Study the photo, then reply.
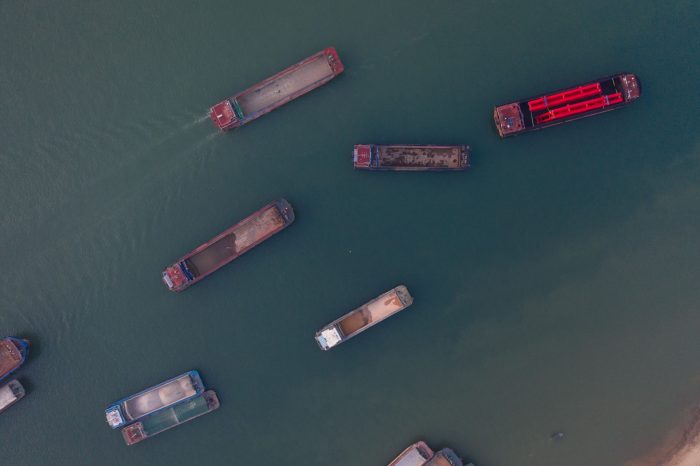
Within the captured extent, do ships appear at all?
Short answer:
Yes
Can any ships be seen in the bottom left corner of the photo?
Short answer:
Yes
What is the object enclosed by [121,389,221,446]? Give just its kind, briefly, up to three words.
ship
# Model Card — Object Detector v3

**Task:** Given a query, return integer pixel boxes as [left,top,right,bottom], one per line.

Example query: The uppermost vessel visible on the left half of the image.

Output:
[209,46,344,132]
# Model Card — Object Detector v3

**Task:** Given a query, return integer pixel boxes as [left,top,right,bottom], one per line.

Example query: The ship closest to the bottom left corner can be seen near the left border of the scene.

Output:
[0,378,26,411]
